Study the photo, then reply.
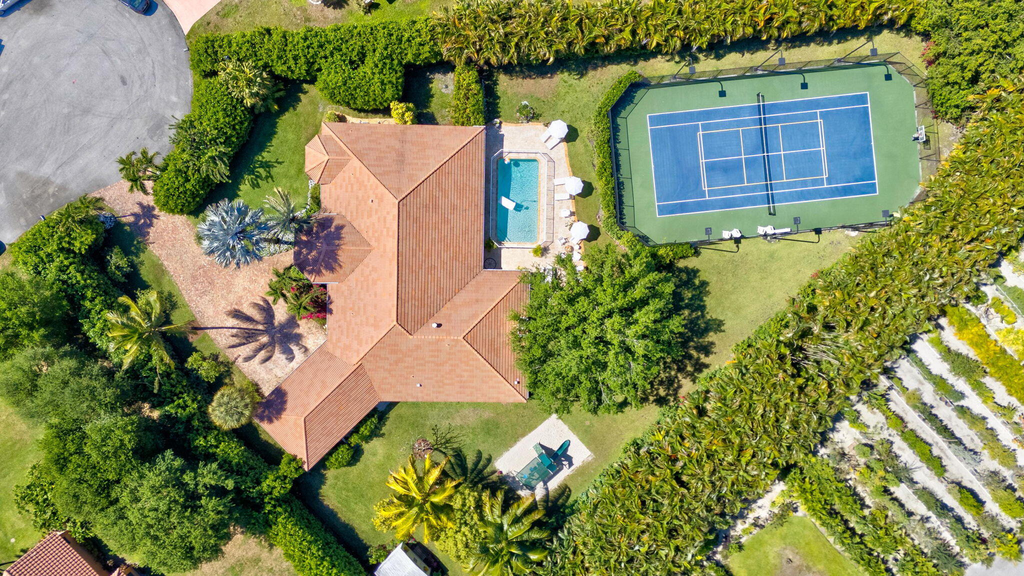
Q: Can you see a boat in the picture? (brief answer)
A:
No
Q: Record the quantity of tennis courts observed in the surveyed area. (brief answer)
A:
1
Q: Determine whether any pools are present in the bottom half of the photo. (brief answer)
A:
No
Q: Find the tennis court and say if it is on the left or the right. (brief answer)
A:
right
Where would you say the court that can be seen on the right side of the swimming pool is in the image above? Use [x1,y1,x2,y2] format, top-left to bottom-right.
[606,61,922,248]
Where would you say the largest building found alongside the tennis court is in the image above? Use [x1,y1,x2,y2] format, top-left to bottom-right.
[253,122,530,472]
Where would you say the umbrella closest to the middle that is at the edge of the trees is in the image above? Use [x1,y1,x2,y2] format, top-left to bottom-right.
[570,221,590,241]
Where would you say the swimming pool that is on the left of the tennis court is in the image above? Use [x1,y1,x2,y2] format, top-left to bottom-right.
[497,157,539,246]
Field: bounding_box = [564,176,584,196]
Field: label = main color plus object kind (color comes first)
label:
white umbrella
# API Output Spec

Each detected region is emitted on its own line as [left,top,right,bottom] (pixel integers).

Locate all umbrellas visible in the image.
[570,221,590,241]
[547,120,567,140]
[564,176,584,196]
